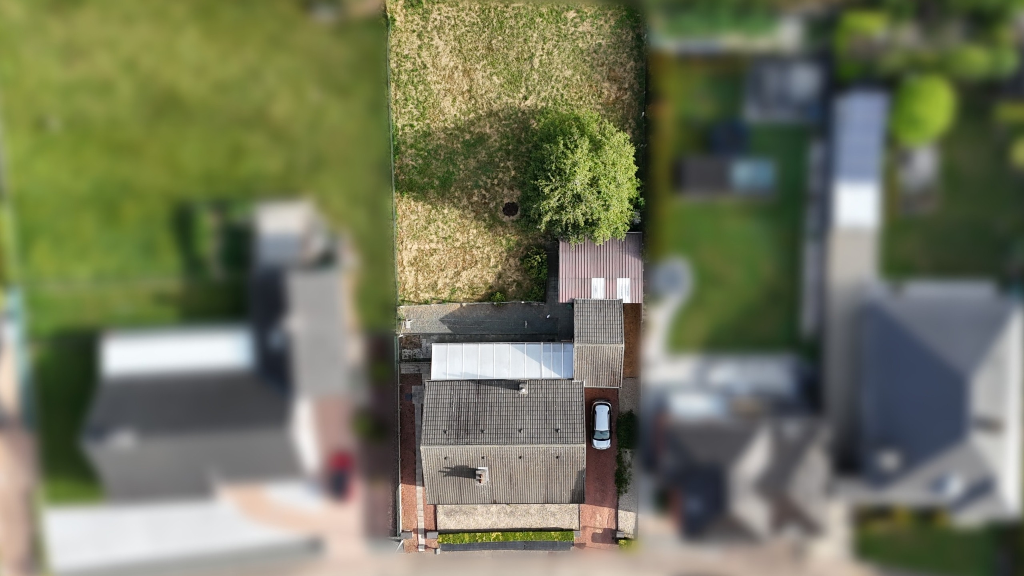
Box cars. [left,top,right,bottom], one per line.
[330,451,355,502]
[590,398,614,448]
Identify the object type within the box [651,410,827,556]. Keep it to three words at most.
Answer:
house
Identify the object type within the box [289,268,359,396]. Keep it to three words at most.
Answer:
building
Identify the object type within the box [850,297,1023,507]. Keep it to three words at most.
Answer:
house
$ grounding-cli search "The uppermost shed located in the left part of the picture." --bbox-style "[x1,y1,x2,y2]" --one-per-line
[255,203,322,266]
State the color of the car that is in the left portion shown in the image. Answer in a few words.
red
